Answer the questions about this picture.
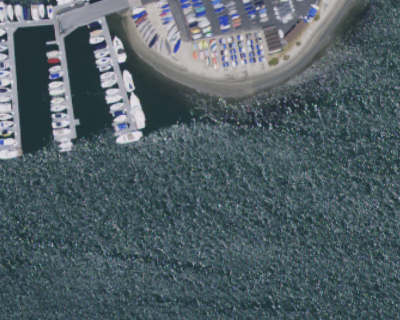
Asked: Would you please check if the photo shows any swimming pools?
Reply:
No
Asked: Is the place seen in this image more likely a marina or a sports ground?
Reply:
marina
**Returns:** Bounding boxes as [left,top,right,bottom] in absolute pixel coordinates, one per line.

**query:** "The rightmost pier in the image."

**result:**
[94,16,136,136]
